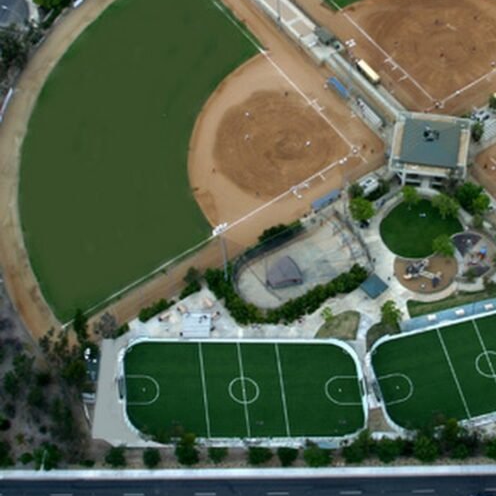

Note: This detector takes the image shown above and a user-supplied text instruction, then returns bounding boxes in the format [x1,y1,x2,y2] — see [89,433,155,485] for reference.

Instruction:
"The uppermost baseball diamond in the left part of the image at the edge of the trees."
[20,0,368,330]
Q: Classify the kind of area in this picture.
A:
sports ground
